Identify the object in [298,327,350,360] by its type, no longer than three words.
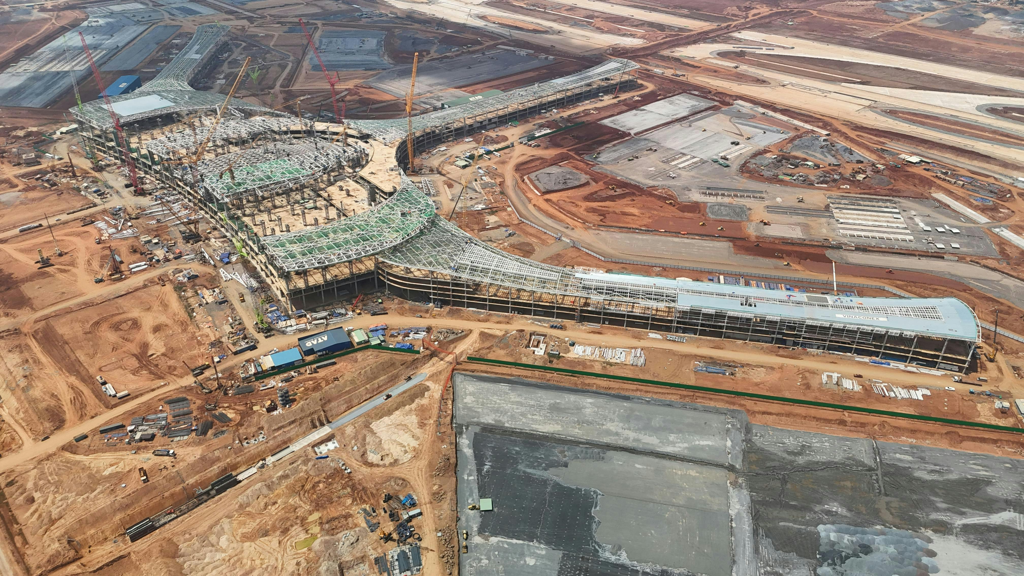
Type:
shed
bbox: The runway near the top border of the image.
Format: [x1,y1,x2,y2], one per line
[391,0,1024,144]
